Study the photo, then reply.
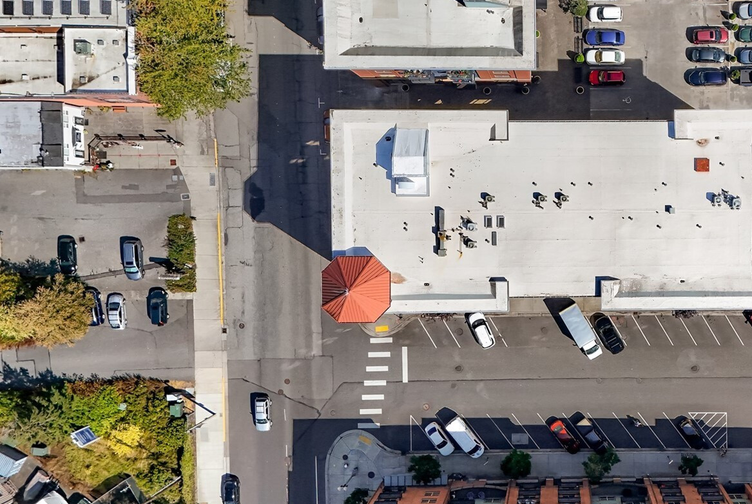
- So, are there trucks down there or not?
Yes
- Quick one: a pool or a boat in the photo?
boat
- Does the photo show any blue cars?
Yes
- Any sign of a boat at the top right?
No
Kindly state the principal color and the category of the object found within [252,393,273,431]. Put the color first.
white car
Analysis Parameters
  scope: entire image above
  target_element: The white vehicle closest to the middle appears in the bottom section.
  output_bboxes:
[467,314,495,350]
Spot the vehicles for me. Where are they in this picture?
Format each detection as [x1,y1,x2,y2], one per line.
[547,416,579,452]
[557,302,603,365]
[585,28,624,46]
[588,5,623,23]
[467,314,495,350]
[692,26,729,44]
[736,46,752,64]
[632,416,643,430]
[148,288,170,325]
[122,238,144,279]
[423,419,454,456]
[690,45,725,64]
[107,293,128,329]
[58,237,80,275]
[444,411,485,460]
[738,69,752,86]
[324,107,341,145]
[737,1,752,20]
[687,69,726,87]
[674,412,707,449]
[86,287,107,325]
[571,411,608,454]
[585,48,624,65]
[593,312,623,354]
[737,24,752,43]
[252,393,273,431]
